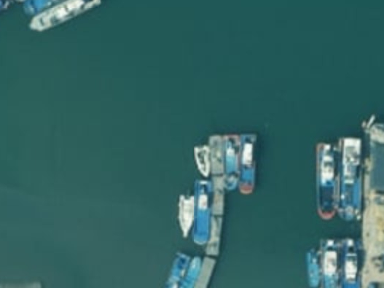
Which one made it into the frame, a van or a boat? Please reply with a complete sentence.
There is a boat in the scene.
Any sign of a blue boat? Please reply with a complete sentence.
Yes, this view includes a blue boat.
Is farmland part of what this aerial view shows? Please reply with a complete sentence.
No, the scene doesn't show any farmland.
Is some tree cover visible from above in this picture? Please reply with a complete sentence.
No, the scene doesn't show any tree cover.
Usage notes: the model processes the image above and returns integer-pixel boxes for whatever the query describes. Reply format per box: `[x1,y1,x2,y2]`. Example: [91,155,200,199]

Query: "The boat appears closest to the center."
[193,146,210,178]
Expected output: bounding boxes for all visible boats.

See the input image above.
[177,192,194,238]
[181,256,201,288]
[240,134,258,195]
[315,143,337,220]
[193,146,210,178]
[31,0,105,30]
[194,179,214,244]
[340,242,364,288]
[160,250,189,288]
[319,242,341,288]
[303,250,319,287]
[24,0,60,13]
[224,134,241,191]
[336,139,361,221]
